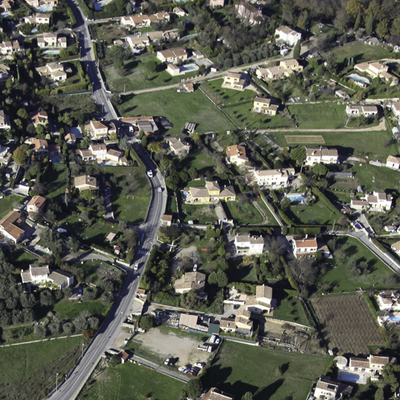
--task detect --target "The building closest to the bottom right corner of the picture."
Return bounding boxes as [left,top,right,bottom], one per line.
[346,353,388,377]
